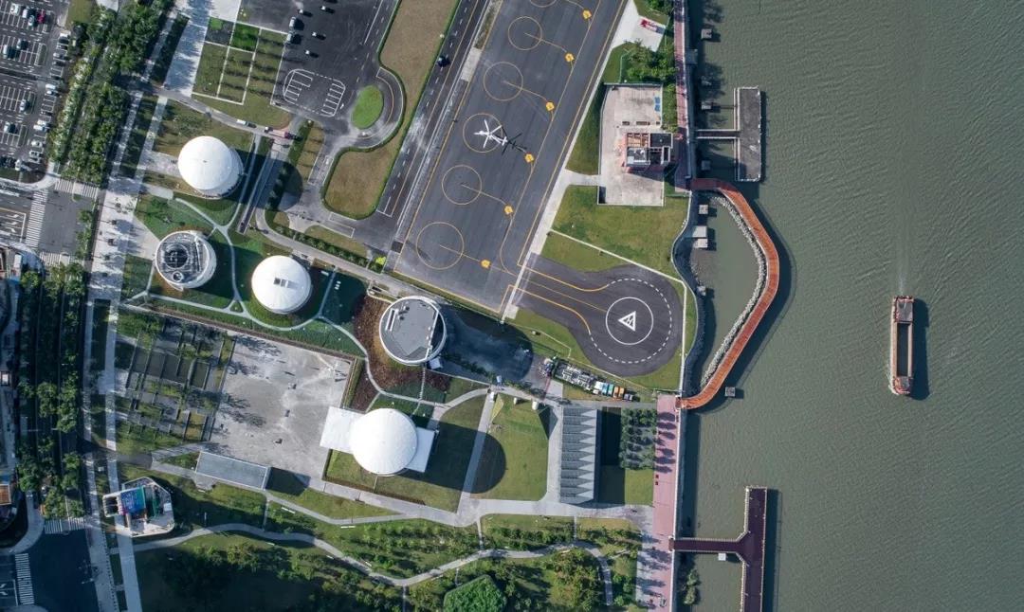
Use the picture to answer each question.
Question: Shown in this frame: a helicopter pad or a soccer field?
helicopter pad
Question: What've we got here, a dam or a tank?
tank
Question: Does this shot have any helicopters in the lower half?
No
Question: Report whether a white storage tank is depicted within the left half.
Yes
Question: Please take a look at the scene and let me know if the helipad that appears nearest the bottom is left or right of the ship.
on the left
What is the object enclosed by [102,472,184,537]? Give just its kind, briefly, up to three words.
building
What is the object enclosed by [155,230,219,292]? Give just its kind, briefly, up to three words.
storage tank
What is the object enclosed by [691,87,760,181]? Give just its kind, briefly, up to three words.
pier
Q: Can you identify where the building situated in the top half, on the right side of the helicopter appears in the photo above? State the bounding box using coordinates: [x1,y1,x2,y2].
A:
[621,132,683,172]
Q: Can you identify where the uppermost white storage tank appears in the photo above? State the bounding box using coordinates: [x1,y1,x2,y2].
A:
[177,135,245,197]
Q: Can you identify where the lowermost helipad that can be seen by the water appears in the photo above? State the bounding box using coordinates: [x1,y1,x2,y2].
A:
[508,254,684,376]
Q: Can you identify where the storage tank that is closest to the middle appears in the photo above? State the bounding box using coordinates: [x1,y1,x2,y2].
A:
[378,296,451,365]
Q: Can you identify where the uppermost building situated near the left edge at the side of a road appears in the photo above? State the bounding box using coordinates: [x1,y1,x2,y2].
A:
[0,248,33,276]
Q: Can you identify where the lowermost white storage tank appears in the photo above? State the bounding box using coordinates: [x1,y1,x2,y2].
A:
[320,401,435,477]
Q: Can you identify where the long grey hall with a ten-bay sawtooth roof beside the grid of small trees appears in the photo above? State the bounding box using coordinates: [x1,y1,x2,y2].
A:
[559,406,601,504]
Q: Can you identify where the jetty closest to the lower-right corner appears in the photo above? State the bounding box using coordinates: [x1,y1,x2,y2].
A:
[676,487,767,612]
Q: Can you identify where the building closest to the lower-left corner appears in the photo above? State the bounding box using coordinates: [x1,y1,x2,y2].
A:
[0,468,36,543]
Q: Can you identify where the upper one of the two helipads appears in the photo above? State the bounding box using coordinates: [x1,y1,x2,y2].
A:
[395,0,626,314]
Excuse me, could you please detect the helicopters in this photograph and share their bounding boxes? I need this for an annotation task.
[474,120,508,150]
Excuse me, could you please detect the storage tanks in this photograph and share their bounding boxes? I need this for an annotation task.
[378,296,451,365]
[155,230,219,292]
[252,254,317,313]
[177,135,245,197]
[320,401,435,477]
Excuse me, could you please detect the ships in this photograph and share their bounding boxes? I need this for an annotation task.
[890,296,915,394]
